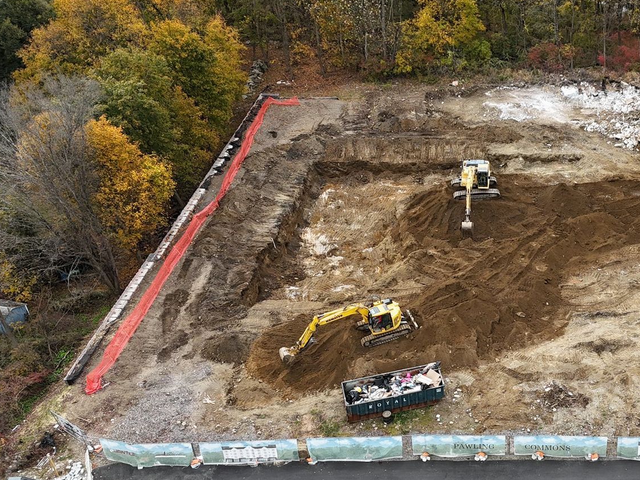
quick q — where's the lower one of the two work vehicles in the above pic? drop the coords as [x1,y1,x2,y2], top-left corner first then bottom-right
[280,300,427,368]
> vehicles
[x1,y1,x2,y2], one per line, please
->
[280,300,427,368]
[453,166,496,227]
